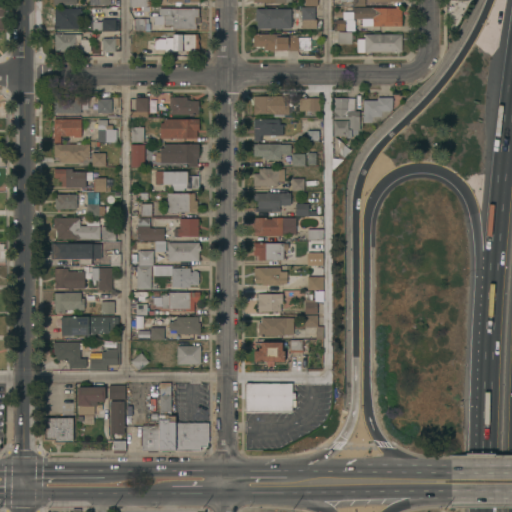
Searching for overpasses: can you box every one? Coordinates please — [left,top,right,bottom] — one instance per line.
[444,454,512,507]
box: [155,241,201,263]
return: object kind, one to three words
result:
house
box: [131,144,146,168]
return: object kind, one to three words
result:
building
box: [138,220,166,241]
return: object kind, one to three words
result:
building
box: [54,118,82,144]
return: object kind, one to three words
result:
house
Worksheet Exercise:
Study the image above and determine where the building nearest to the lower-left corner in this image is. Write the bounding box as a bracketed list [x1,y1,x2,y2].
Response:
[46,418,75,442]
